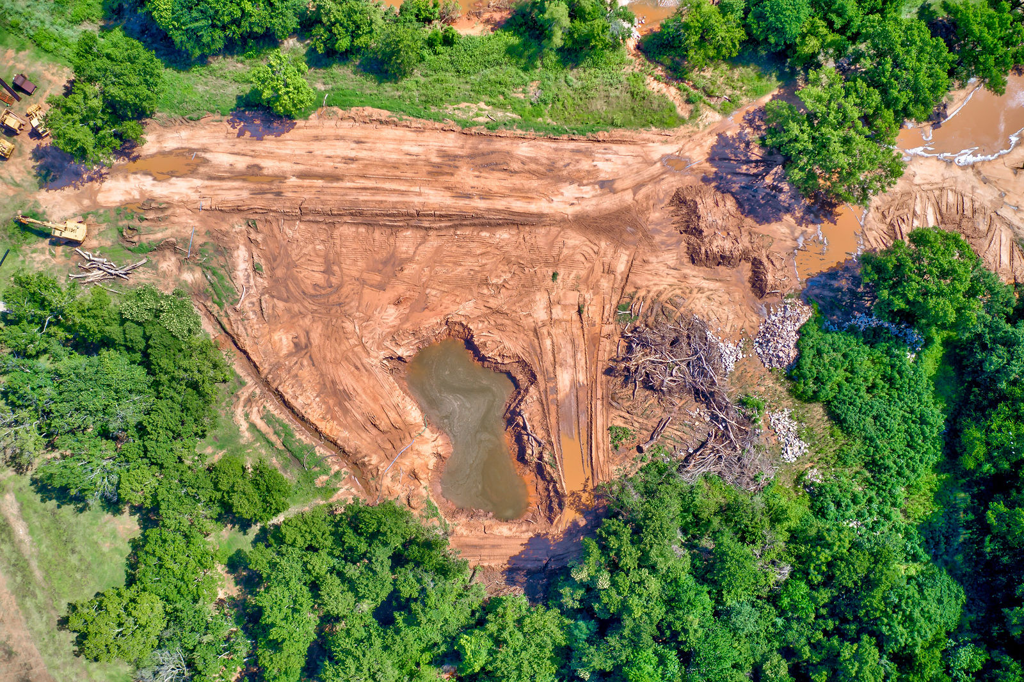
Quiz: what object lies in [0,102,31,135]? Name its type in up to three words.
work vehicle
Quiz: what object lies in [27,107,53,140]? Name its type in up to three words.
work vehicle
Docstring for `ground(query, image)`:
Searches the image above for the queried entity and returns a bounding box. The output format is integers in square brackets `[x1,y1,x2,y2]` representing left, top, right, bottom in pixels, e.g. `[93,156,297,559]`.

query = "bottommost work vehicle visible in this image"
[24,217,95,248]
